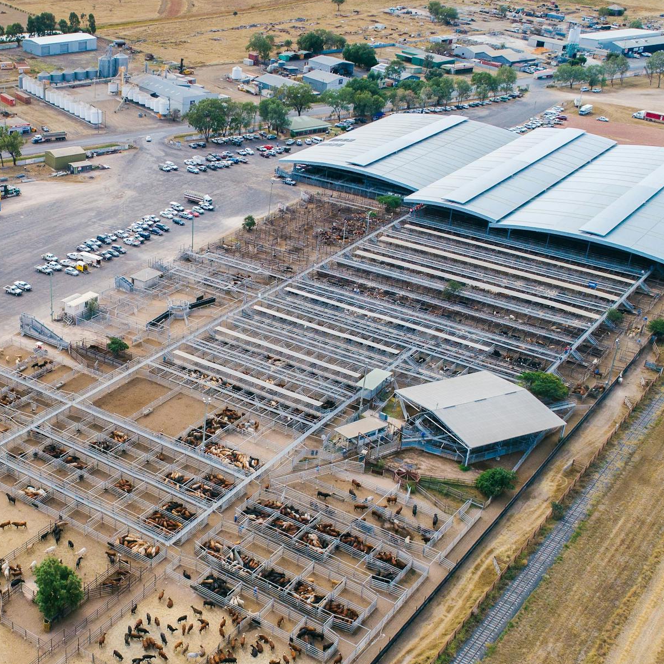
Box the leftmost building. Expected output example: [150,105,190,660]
[0,113,31,133]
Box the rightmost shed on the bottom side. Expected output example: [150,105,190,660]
[378,370,566,470]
